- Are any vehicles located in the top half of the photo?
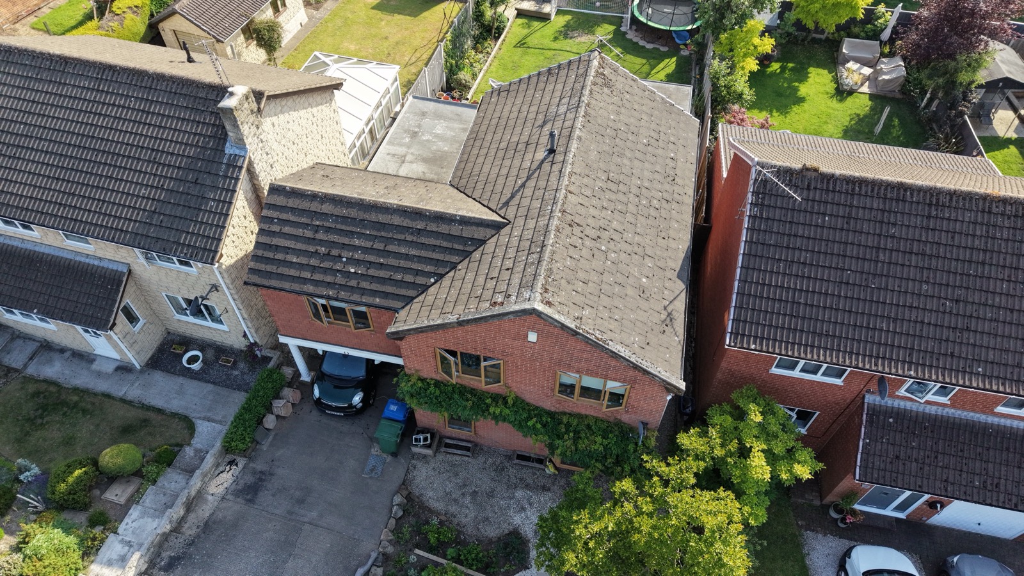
No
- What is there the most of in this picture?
buildings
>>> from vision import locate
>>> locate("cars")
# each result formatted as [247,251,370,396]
[939,558,1012,576]
[318,348,388,417]
[834,537,915,576]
